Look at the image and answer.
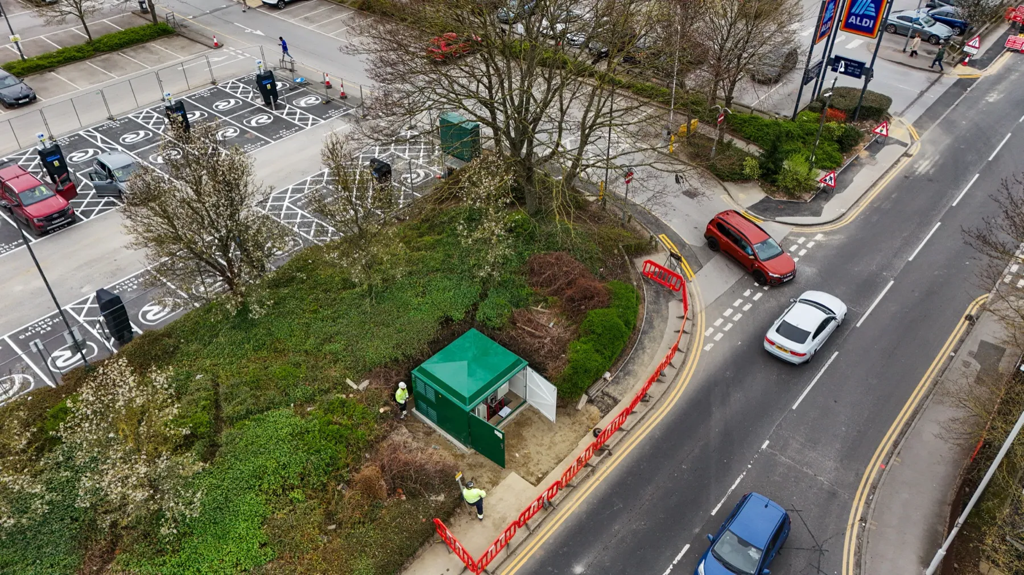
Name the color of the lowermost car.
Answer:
blue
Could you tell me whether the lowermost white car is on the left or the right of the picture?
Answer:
right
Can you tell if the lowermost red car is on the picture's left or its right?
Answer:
right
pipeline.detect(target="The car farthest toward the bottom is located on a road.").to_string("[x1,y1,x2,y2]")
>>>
[699,496,796,575]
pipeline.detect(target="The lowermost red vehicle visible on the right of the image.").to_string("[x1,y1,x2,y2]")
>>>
[709,207,799,282]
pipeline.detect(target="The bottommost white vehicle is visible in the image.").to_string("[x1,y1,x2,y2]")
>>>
[770,286,849,358]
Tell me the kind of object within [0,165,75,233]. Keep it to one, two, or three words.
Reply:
car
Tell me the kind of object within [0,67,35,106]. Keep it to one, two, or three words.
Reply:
car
